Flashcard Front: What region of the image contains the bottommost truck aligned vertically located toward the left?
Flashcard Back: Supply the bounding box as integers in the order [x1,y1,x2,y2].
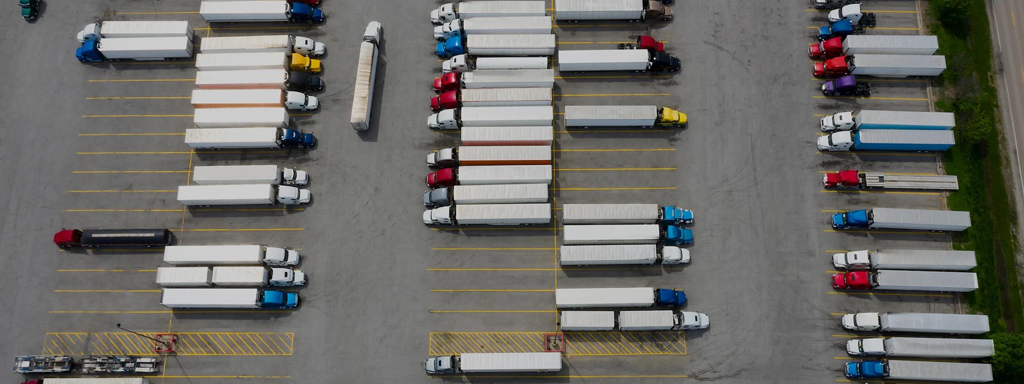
[351,21,381,132]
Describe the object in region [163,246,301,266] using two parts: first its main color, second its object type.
white vehicle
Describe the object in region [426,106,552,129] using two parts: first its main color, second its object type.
white truck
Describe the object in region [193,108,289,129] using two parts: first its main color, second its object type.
white trailer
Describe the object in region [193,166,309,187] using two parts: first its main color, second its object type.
white truck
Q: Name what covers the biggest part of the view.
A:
paved ground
